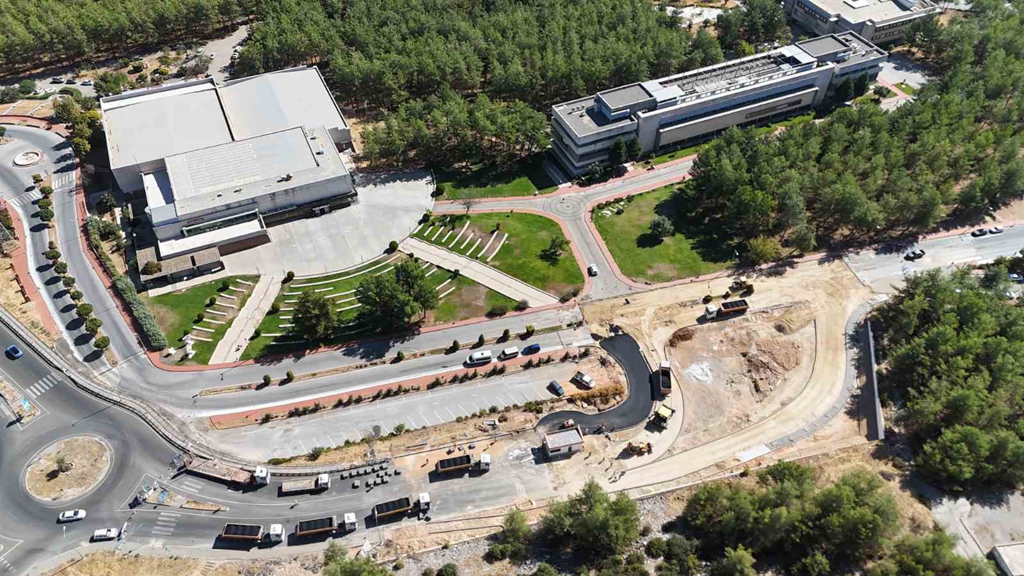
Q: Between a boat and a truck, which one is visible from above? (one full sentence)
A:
I can see a truck in this picture.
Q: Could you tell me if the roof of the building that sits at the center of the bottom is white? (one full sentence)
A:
Yes, white is the color of the roof of the building that sits at the center of the bottom.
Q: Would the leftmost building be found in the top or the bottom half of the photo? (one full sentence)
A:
The top half of the photo is where the leftmost building is.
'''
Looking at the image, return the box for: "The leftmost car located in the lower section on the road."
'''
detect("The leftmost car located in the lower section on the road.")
[5,346,23,359]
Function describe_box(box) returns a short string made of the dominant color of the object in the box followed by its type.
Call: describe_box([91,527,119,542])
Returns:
white car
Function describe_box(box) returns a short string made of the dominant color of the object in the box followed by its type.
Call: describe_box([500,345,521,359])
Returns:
white vehicle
